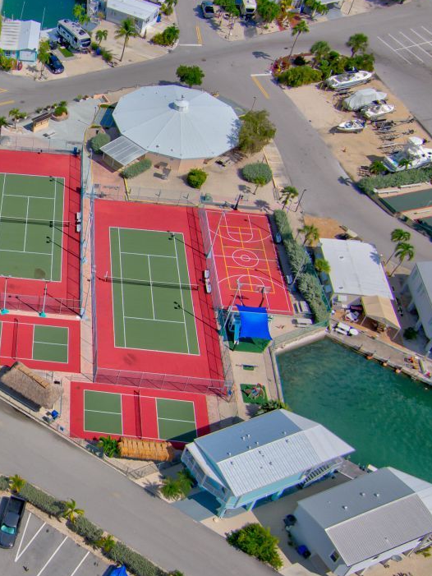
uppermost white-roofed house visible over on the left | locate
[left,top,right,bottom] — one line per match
[107,0,160,34]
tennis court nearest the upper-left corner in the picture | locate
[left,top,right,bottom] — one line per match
[0,149,81,314]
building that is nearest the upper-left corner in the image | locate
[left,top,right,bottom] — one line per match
[0,18,40,68]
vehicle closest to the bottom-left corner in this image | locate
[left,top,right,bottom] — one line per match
[0,493,27,548]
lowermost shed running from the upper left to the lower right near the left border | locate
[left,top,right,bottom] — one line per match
[0,359,66,414]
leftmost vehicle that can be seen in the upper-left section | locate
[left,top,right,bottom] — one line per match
[47,53,63,72]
